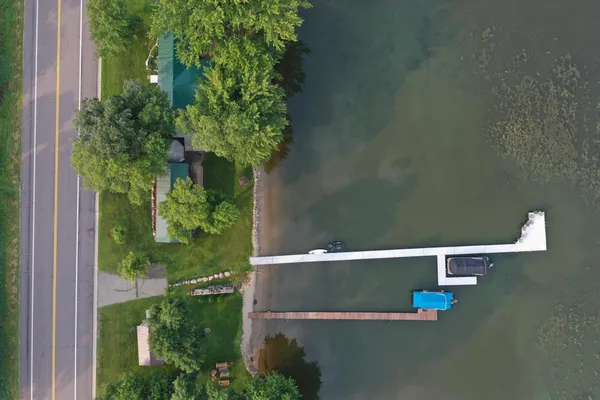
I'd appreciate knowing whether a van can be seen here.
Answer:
No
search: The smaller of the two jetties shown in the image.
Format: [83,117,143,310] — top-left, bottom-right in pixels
[248,308,437,320]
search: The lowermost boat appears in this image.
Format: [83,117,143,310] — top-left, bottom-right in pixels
[412,291,454,309]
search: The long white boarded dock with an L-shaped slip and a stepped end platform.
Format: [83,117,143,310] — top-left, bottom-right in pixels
[250,212,548,285]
